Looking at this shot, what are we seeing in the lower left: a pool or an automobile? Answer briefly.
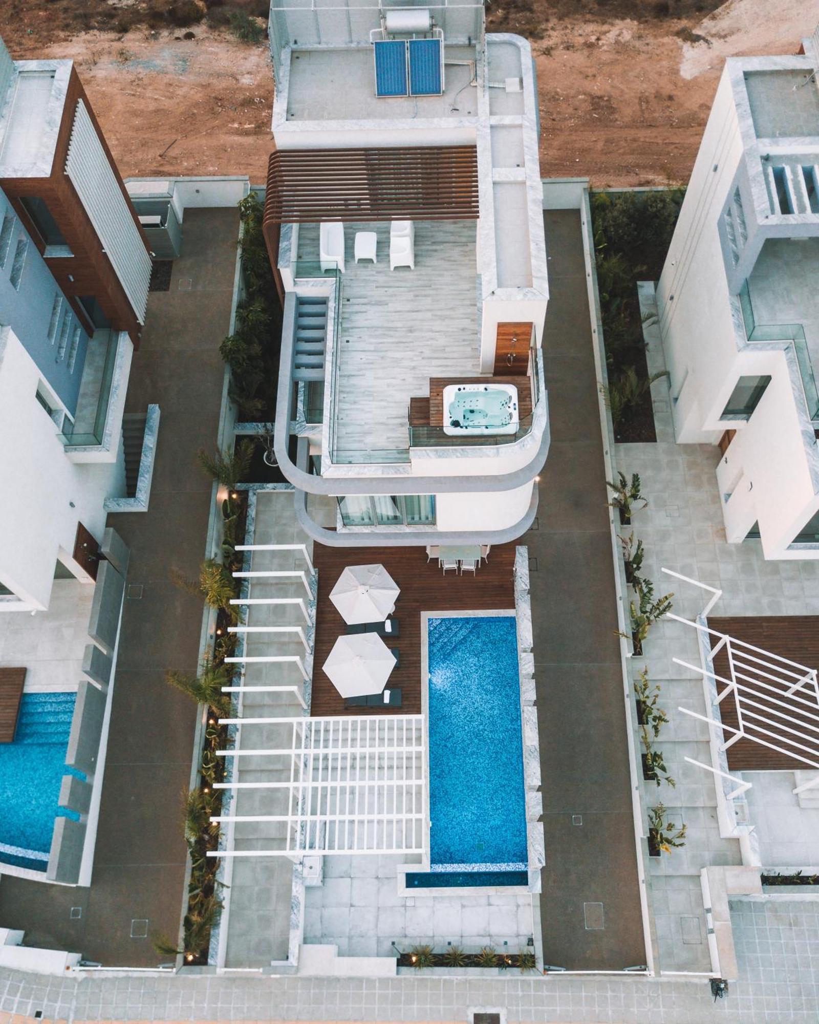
pool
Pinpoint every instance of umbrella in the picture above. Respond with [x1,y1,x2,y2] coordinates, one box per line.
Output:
[322,631,397,699]
[328,563,401,628]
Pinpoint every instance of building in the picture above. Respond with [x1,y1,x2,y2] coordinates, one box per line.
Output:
[659,0,819,560]
[266,32,558,548]
[0,0,152,623]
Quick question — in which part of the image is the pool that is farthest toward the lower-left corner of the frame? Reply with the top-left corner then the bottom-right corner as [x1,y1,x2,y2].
[0,682,101,885]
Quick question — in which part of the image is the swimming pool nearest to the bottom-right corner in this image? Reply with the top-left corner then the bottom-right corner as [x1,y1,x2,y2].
[397,610,528,896]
